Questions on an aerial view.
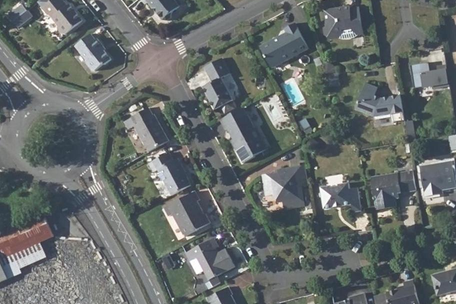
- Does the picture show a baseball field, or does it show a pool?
pool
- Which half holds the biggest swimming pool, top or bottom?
top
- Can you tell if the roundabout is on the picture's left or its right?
left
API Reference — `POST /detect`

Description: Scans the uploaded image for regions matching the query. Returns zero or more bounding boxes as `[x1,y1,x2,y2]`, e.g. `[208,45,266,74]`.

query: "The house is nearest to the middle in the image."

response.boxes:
[219,105,270,163]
